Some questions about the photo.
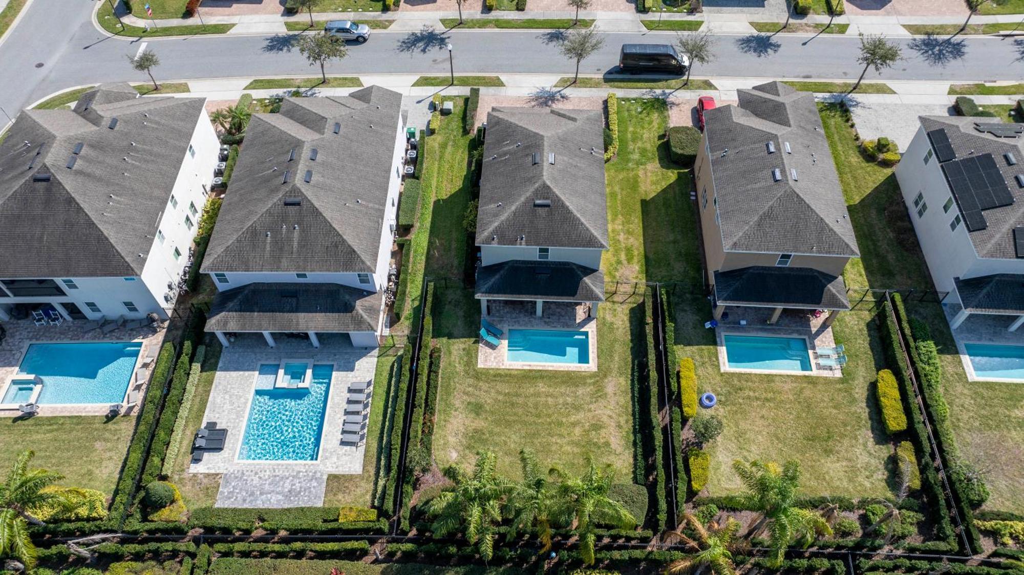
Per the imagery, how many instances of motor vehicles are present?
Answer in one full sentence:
The photo contains 3 motor vehicles.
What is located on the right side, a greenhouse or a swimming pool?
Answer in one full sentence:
It is a swimming pool that can be seen on the right side.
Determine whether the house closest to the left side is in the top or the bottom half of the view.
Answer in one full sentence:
The house closest to the left side sits in the top half of the picture.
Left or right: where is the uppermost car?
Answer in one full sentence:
The uppermost car is on the left side of the image.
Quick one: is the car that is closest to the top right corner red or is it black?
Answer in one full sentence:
The color of the car that is closest to the top right corner is red.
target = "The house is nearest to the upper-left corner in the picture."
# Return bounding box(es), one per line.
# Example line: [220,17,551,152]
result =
[0,82,219,318]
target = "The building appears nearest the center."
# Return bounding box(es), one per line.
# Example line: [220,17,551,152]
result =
[474,106,609,318]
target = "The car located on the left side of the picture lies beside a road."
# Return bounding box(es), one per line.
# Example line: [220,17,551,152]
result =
[323,17,372,42]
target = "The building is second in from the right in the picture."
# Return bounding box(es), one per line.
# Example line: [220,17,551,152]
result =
[696,81,861,325]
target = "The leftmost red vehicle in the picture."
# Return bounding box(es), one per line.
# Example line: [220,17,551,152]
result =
[697,94,718,129]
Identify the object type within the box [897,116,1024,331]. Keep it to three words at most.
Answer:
house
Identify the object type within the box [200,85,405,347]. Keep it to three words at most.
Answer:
house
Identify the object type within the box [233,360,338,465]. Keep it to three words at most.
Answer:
swimming pool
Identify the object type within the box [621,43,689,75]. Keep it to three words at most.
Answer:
van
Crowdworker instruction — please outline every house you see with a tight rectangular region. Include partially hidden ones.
[0,82,219,318]
[696,81,861,325]
[474,106,609,318]
[897,116,1024,331]
[200,85,405,347]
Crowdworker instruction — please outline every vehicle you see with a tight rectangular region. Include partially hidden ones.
[621,43,689,75]
[323,17,372,42]
[697,94,718,129]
